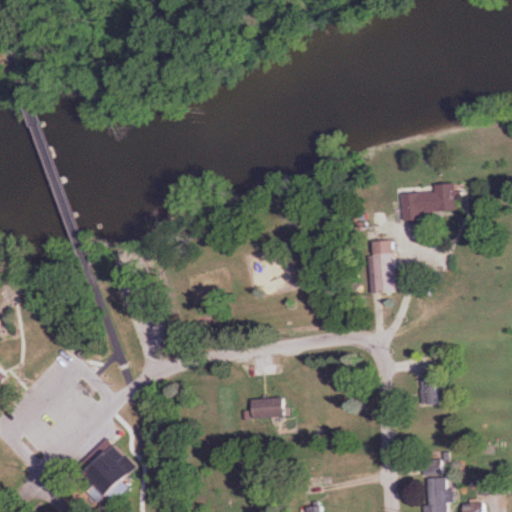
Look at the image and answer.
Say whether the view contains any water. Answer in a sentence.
Yes, water can be seen from above here.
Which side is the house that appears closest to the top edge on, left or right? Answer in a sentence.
The house that appears closest to the top edge is on the right side of the image.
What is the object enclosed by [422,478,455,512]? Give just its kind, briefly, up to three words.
house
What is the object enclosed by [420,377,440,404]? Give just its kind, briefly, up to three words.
house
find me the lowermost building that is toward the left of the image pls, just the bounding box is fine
[80,438,136,502]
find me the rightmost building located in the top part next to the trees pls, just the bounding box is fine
[400,183,461,221]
